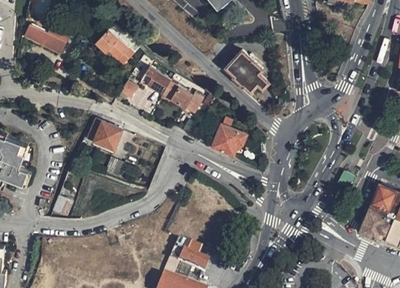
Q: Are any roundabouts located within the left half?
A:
No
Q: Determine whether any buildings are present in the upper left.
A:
Yes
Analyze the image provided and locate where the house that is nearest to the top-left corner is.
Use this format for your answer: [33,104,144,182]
[25,22,70,54]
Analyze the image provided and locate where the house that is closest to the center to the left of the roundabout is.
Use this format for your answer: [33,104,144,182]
[212,116,249,158]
